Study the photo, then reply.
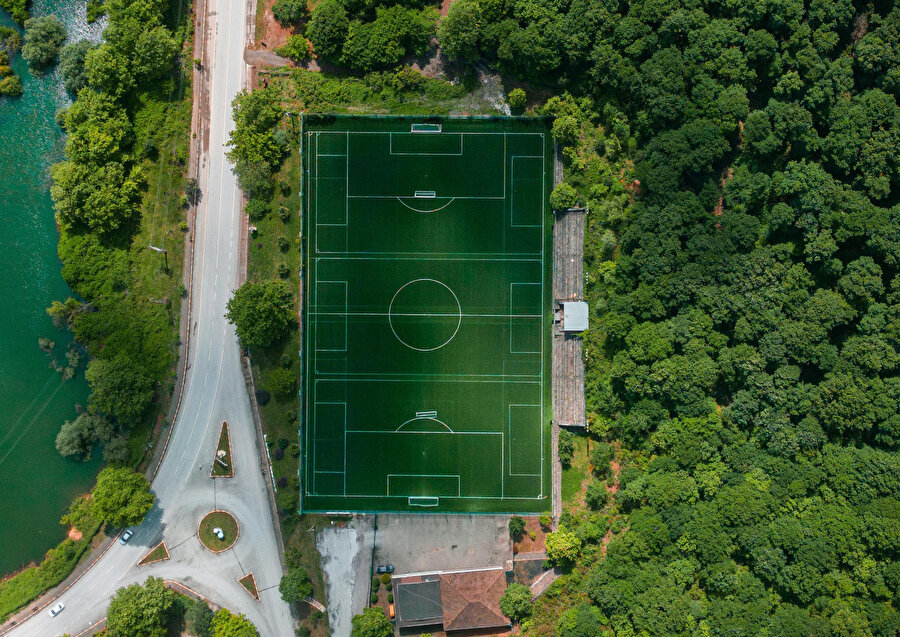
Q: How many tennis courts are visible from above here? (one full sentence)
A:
Not a single tennis court can be seen.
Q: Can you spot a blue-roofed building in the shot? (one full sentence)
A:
No, there appears to be no blue-roofed building in this shot.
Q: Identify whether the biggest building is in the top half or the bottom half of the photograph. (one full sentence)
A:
The biggest building is in the bottom half of the image.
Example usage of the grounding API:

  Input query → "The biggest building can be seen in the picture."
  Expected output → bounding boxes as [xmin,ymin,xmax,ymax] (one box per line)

[392,566,513,635]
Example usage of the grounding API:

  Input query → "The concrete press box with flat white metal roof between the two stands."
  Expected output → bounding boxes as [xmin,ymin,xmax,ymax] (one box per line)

[553,298,589,340]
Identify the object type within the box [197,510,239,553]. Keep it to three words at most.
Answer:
roundabout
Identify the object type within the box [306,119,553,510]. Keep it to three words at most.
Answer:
soccer field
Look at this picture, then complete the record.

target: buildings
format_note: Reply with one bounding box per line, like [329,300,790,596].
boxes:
[553,298,589,340]
[392,566,513,635]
